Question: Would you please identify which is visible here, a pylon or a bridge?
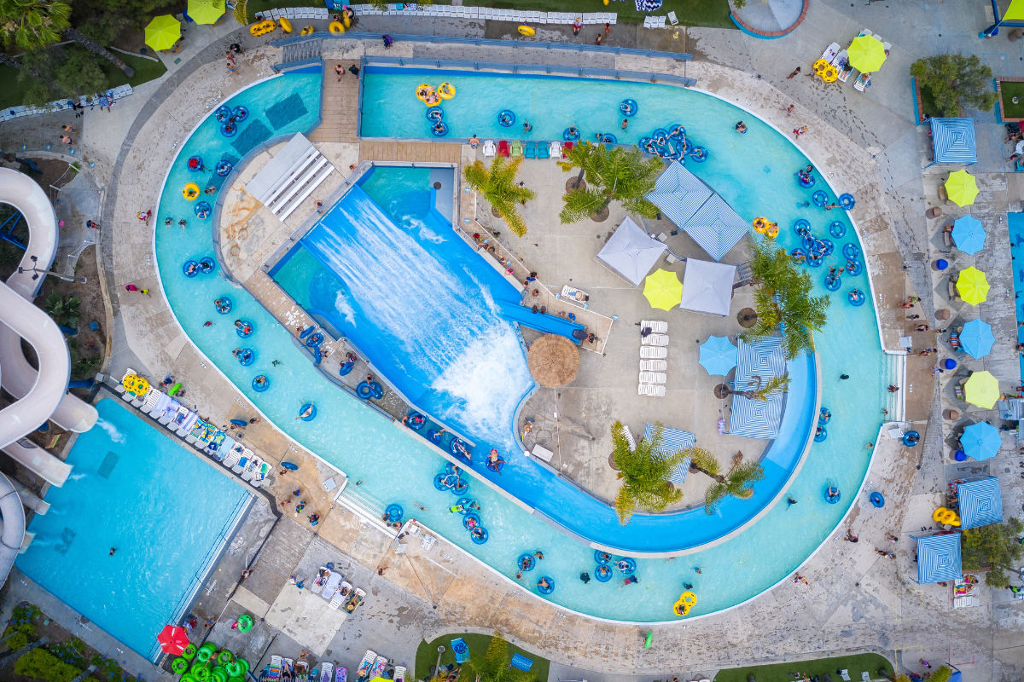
bridge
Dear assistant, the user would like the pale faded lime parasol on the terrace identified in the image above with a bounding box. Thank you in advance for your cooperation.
[956,371,995,405]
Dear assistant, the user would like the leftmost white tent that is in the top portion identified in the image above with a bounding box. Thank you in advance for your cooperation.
[593,217,667,290]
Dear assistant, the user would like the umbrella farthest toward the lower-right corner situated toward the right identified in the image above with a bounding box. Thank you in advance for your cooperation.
[955,419,997,460]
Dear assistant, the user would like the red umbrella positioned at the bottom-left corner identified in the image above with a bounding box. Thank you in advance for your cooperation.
[161,622,194,654]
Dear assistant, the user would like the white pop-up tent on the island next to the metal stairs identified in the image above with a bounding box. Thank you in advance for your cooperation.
[671,257,735,318]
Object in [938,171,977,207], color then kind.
green umbrella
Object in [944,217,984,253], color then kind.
blue umbrella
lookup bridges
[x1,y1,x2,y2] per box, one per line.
[312,56,362,139]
